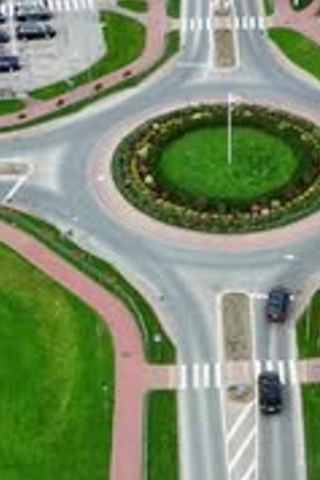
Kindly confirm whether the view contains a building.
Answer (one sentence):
No, the photo shows no building.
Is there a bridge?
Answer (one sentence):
No, I find no bridge anywhere in the image.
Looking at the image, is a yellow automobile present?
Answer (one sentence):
No, I can see no yellow automobile in this picture.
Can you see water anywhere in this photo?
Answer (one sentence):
No, there's no water in this view.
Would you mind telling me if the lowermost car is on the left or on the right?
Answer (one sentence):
It is on the right.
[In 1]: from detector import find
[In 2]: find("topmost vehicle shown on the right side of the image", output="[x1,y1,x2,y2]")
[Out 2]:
[266,288,289,323]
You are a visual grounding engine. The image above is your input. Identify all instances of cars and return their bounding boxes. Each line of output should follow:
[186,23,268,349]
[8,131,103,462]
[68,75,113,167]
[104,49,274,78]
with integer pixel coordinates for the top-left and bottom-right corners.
[0,30,9,44]
[15,3,51,19]
[266,288,289,323]
[257,372,283,416]
[16,23,55,39]
[0,55,22,72]
[0,12,7,24]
